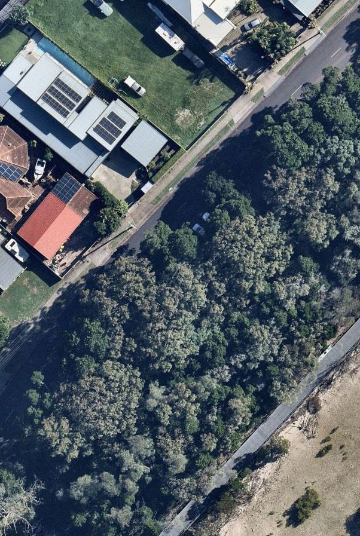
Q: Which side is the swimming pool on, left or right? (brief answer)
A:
left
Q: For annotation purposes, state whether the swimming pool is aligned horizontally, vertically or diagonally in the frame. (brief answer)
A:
diagonally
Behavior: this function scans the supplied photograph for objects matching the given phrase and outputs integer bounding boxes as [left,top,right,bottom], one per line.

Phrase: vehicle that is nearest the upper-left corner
[91,0,114,18]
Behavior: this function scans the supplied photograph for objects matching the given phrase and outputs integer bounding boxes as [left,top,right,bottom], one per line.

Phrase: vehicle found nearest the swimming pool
[122,73,147,99]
